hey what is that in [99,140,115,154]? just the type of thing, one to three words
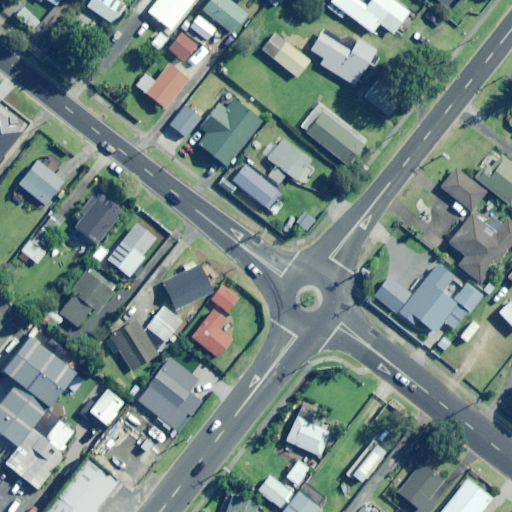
vehicle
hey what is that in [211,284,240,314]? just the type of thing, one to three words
building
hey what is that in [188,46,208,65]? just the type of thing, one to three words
camper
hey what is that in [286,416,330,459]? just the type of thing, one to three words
house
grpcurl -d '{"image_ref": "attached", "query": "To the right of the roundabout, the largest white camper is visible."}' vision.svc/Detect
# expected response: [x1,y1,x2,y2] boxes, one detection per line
[462,322,480,342]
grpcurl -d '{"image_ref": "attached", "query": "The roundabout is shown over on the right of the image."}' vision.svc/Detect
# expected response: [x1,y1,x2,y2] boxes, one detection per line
[262,227,366,366]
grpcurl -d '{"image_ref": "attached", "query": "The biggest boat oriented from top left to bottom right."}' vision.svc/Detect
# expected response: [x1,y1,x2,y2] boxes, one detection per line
[146,426,166,442]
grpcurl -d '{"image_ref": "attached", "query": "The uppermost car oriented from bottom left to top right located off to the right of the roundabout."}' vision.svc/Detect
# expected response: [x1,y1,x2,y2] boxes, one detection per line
[494,286,508,302]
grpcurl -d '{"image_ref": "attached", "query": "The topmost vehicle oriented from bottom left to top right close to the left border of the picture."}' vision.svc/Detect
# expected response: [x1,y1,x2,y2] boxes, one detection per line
[4,337,18,354]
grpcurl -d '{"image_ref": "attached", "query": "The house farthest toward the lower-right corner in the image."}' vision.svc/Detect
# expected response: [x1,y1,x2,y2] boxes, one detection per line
[440,476,493,512]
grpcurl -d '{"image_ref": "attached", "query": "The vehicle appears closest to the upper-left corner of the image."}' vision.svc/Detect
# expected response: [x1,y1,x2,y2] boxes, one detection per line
[110,30,124,44]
